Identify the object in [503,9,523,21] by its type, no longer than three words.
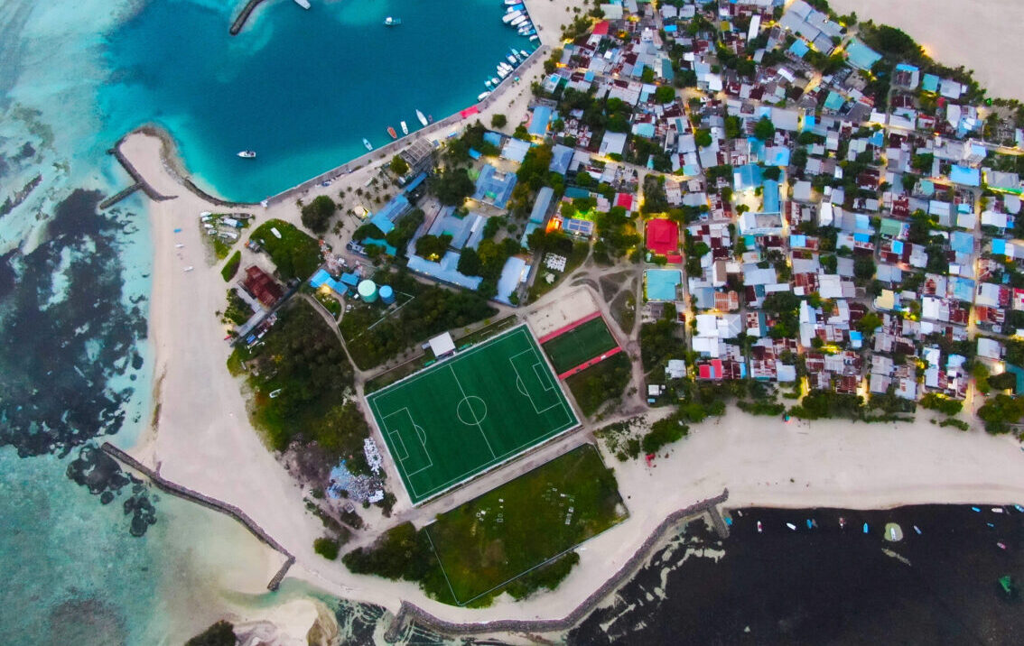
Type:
boat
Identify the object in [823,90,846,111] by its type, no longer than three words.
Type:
house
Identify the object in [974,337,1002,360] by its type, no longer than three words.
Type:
house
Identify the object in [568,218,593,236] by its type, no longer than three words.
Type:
building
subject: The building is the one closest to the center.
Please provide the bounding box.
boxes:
[493,257,526,307]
